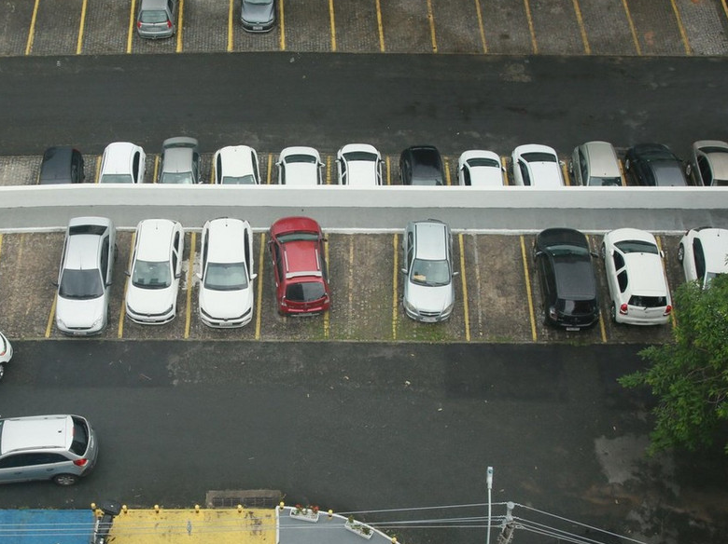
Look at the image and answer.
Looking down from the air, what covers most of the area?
paved ground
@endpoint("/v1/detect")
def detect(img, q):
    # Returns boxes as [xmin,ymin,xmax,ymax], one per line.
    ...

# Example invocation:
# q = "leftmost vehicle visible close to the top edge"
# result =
[136,0,175,37]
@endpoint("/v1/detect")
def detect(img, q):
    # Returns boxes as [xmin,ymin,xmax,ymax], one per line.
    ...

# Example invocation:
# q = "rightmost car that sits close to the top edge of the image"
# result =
[238,0,276,30]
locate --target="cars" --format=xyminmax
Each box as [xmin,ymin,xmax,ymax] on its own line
[606,231,668,324]
[685,143,728,186]
[274,146,326,185]
[51,219,114,331]
[216,142,260,185]
[398,147,446,185]
[36,148,84,186]
[156,139,200,185]
[569,143,623,186]
[270,219,330,315]
[534,228,600,326]
[456,148,508,185]
[238,0,276,30]
[195,219,257,326]
[510,143,565,185]
[0,412,94,482]
[97,142,145,185]
[334,143,386,185]
[400,222,460,323]
[121,218,183,324]
[629,147,687,186]
[136,0,175,37]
